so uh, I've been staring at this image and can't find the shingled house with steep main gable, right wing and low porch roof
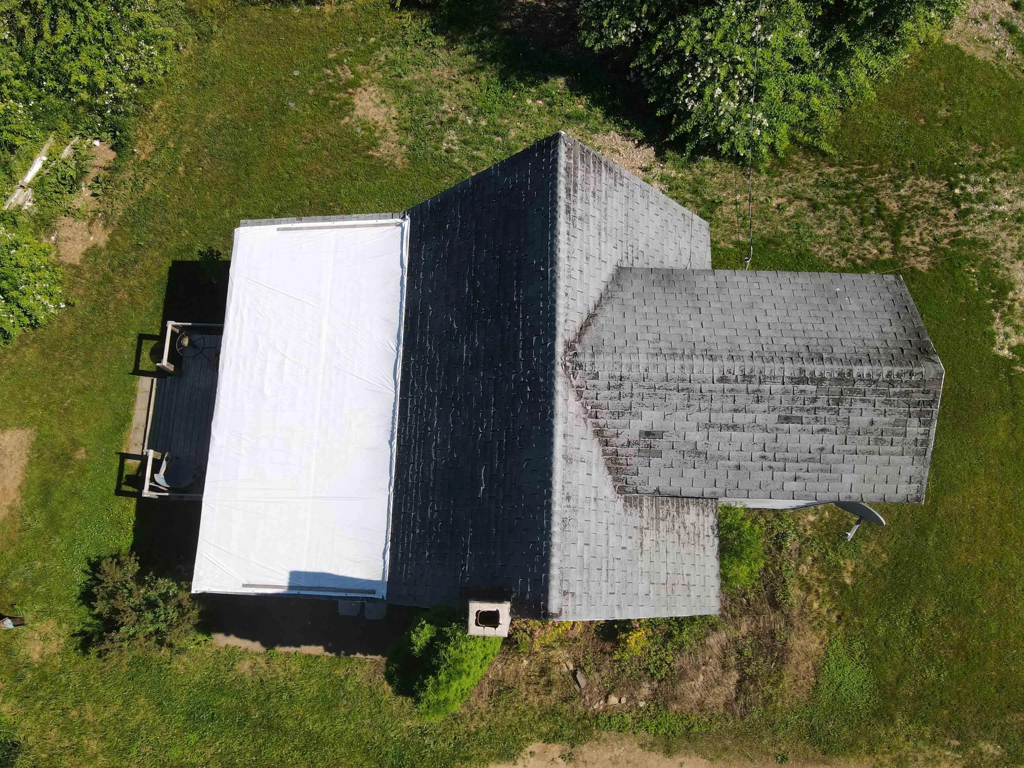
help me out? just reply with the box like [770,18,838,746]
[201,131,946,636]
